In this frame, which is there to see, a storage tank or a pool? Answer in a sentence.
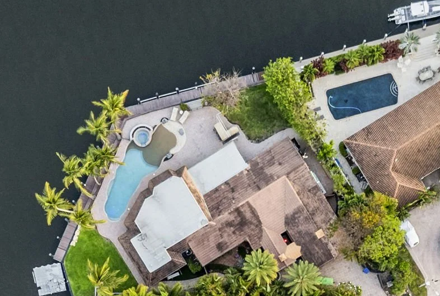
The image shows a pool.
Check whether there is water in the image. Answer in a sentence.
Yes, there is water in the image.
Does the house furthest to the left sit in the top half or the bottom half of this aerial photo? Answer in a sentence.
The house furthest to the left sits in the bottom half of the picture.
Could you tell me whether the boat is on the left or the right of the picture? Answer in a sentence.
The boat is on the right side of the image.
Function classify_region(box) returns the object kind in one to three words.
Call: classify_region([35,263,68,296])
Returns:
pier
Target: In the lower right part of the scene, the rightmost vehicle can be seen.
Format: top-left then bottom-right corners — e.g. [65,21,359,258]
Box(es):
[402,219,424,248]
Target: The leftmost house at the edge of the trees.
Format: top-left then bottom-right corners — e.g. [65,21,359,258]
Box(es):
[118,136,338,288]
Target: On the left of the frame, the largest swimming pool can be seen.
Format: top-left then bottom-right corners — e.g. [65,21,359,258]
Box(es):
[103,121,179,224]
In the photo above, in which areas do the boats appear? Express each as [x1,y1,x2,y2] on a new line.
[385,0,440,26]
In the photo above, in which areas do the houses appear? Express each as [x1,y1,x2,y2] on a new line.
[118,136,338,288]
[343,80,440,205]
